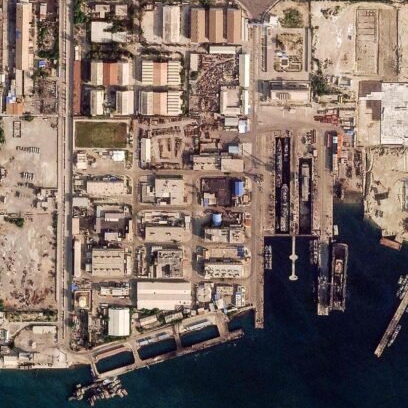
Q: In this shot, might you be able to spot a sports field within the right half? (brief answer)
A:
No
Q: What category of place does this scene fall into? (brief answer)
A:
port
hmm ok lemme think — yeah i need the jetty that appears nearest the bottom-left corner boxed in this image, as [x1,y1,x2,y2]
[87,321,244,382]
